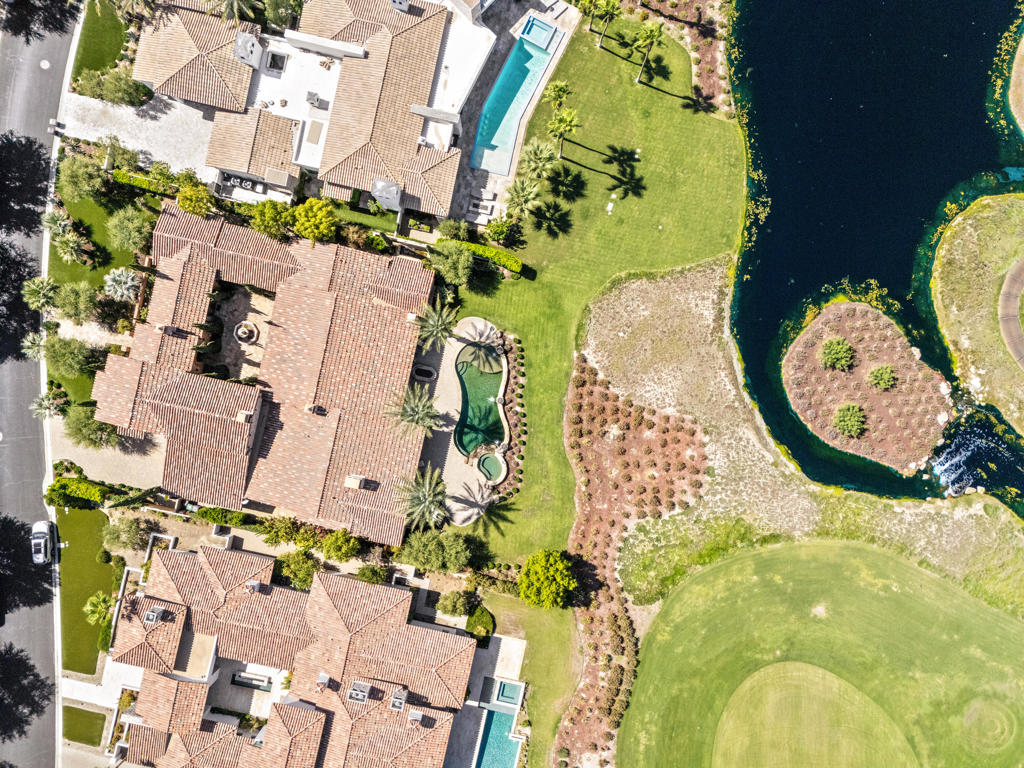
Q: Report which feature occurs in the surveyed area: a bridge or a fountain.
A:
fountain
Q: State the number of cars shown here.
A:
1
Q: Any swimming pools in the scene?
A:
Yes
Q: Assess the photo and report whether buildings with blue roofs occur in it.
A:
No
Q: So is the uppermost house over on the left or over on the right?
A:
left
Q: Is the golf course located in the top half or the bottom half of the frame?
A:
bottom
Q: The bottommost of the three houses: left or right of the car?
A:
right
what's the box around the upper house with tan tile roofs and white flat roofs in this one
[133,0,508,218]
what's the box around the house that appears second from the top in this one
[91,205,436,547]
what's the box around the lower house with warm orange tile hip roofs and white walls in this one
[112,543,476,768]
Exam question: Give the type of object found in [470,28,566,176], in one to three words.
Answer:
swimming pool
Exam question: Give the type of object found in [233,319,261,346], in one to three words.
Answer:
fountain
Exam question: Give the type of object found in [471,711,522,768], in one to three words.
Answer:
swimming pool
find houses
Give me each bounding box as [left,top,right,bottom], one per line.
[133,0,508,218]
[112,543,476,768]
[91,205,436,547]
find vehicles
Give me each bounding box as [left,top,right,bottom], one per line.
[28,520,55,565]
